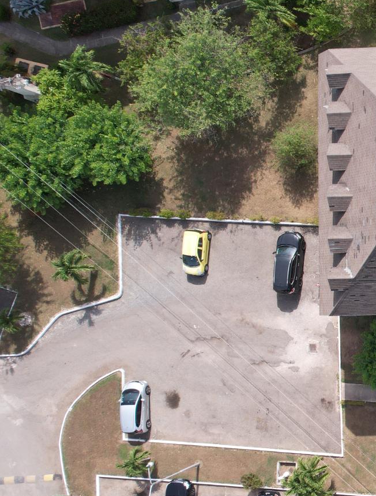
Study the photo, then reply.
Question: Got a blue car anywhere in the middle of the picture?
No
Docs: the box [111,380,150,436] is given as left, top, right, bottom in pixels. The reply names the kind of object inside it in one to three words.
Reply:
car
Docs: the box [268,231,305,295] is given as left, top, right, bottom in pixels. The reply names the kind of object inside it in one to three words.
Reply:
car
